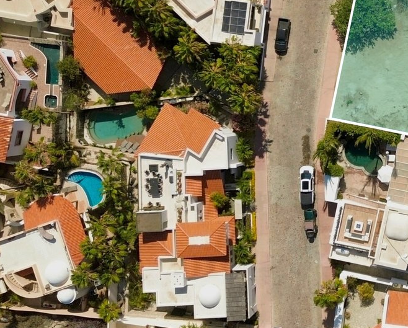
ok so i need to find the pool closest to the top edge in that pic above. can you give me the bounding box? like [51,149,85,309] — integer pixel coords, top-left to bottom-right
[28,42,60,87]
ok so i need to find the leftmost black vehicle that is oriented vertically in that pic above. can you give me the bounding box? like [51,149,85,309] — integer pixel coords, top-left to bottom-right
[272,16,291,57]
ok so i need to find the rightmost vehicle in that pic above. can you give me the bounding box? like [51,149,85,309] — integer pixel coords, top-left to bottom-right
[298,165,315,208]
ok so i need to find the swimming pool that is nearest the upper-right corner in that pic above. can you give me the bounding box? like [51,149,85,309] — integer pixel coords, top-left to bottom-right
[341,136,386,178]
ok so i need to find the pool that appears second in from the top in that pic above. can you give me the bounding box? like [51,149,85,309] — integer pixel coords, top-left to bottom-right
[44,94,59,109]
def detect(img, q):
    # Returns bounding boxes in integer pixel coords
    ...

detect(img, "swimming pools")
[28,42,60,87]
[341,136,386,178]
[44,94,59,109]
[66,169,107,209]
[85,106,148,145]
